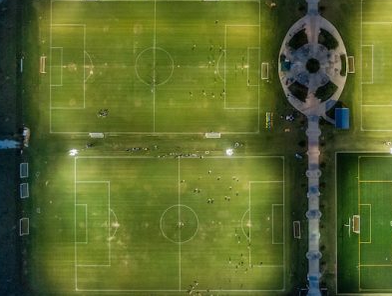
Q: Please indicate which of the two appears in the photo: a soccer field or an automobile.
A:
soccer field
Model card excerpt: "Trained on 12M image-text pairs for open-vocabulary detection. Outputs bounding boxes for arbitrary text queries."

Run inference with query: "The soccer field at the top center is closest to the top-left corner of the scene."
[50,0,260,133]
